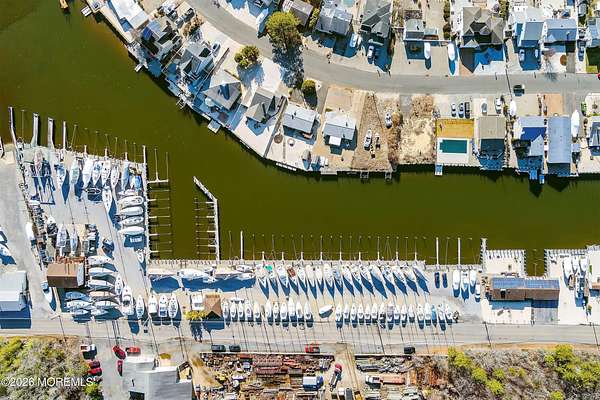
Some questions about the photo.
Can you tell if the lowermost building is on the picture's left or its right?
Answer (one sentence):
The lowermost building appears in the left half of the scene.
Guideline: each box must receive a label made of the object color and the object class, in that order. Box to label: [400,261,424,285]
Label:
white boat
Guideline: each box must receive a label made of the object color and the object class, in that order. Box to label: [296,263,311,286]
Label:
white boat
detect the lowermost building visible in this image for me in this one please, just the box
[121,358,193,400]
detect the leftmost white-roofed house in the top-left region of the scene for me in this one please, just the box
[105,0,151,32]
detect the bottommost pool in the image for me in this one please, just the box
[438,139,468,155]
